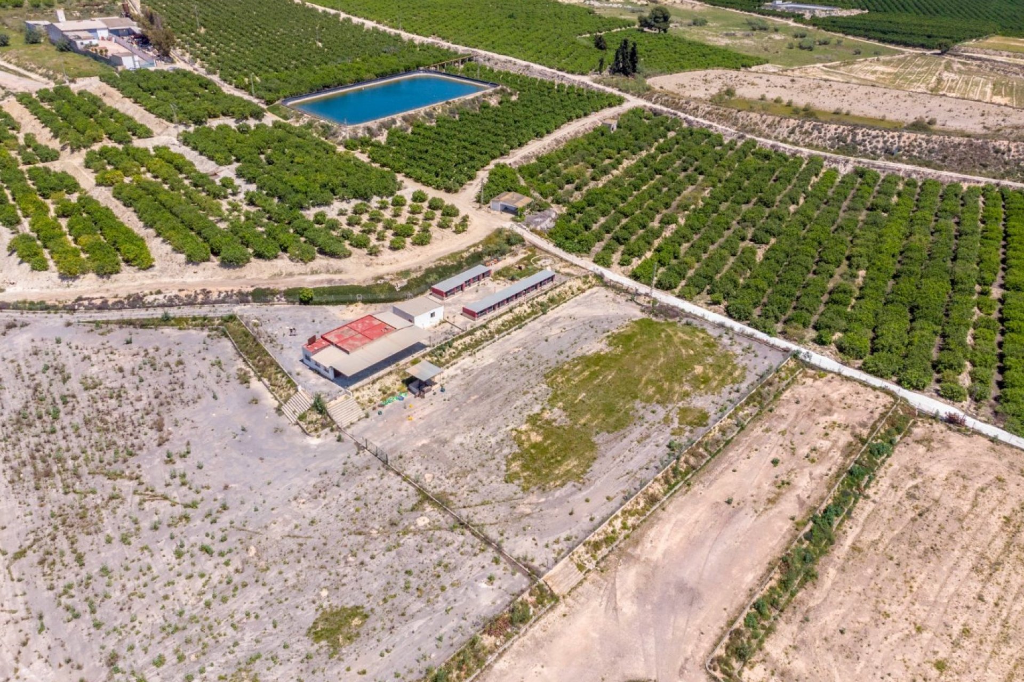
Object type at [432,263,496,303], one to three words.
shed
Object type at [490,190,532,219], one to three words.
building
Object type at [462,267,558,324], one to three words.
shed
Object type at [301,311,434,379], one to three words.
building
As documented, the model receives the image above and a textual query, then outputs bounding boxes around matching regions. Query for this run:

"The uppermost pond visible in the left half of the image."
[283,69,497,126]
